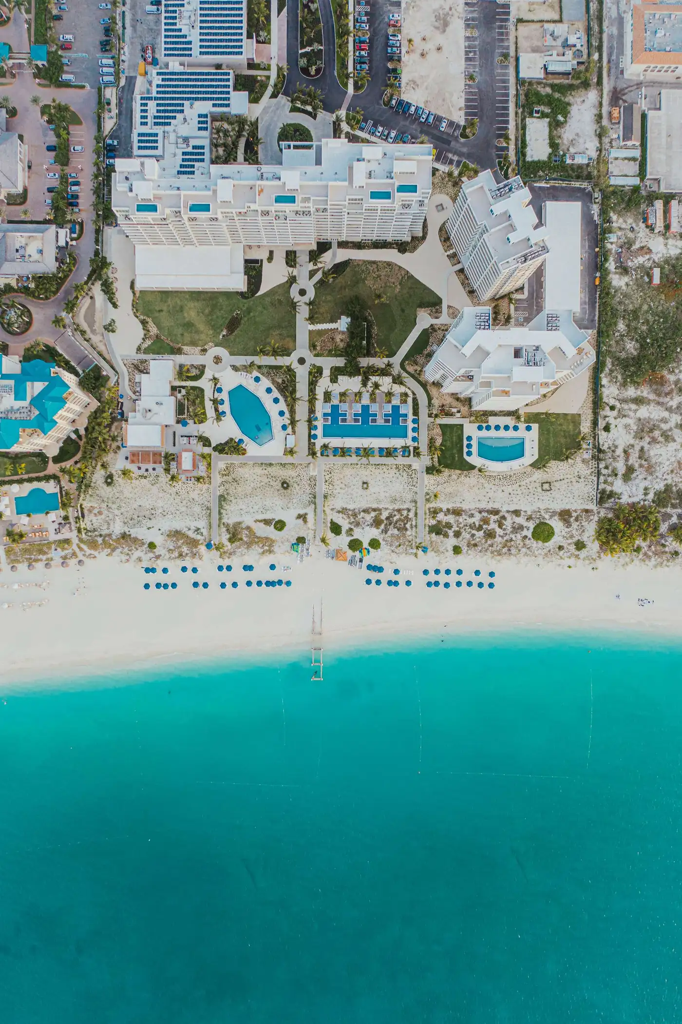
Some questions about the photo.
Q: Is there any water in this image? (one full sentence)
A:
Yes, some water is visible.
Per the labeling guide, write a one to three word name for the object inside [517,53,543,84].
building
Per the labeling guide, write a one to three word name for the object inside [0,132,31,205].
house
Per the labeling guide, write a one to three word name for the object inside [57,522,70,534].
gazebo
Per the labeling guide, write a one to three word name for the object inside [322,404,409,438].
swimming pool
